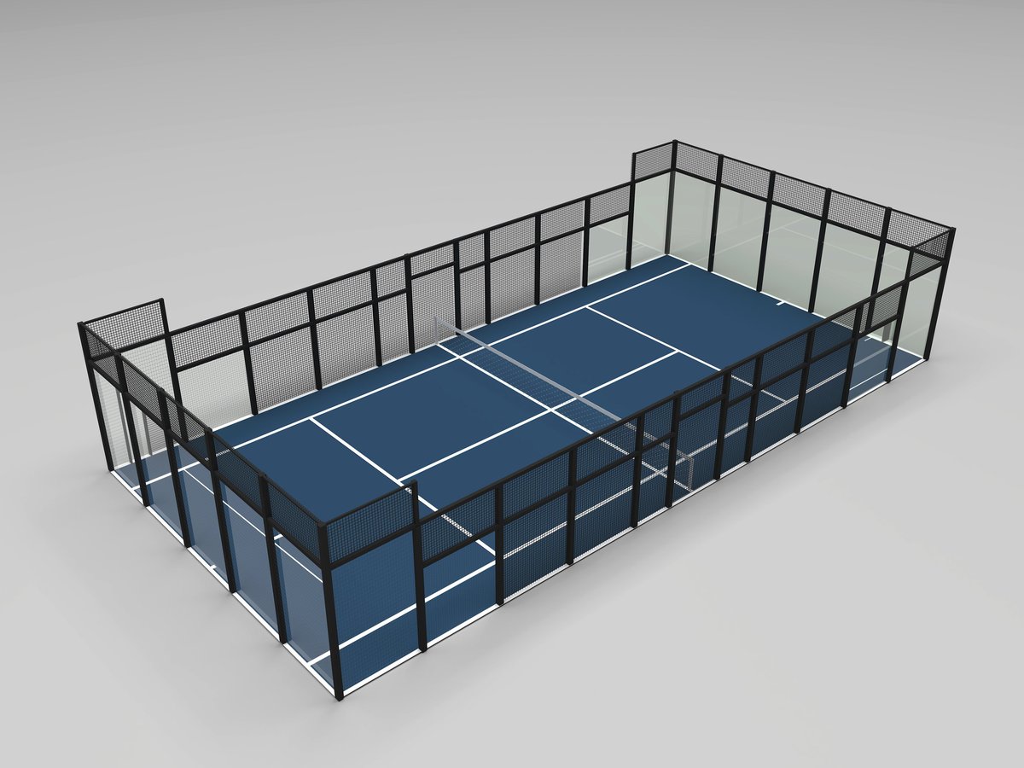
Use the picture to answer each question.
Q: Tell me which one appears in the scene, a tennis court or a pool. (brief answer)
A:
tennis court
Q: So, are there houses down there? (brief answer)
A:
No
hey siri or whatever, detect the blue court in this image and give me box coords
[111,253,926,698]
